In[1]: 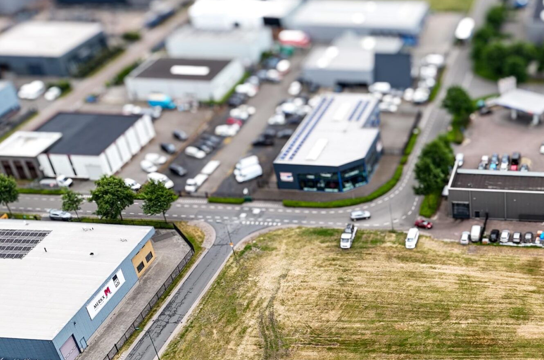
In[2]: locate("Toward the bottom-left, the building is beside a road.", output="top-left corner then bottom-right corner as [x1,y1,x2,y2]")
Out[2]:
[0,220,164,360]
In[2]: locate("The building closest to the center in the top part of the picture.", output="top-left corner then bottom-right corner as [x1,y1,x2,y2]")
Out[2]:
[273,93,382,192]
